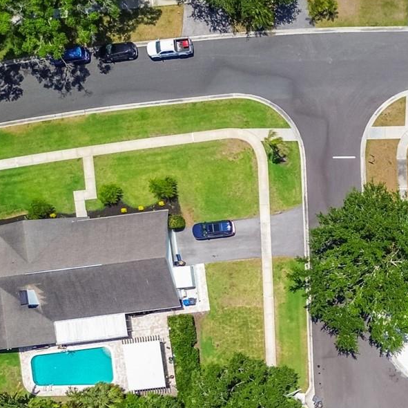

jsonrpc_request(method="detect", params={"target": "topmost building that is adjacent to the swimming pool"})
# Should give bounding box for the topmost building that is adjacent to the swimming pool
[0,210,186,351]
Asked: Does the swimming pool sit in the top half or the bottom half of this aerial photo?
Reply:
bottom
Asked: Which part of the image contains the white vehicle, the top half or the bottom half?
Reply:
top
